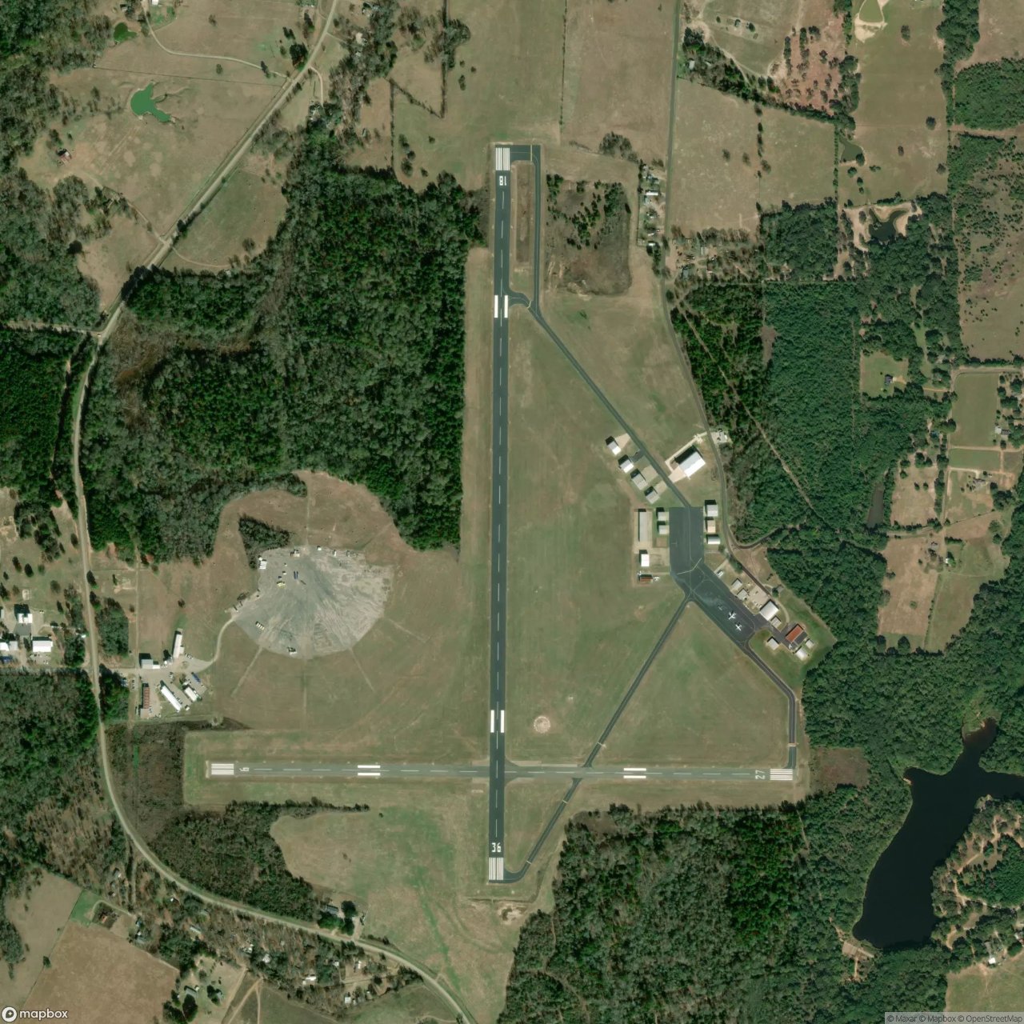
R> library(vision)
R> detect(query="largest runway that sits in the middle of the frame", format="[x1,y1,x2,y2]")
[489,145,510,882]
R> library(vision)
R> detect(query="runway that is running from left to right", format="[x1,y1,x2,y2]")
[210,764,794,780]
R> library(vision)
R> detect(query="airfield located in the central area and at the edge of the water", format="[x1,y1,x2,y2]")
[210,145,809,883]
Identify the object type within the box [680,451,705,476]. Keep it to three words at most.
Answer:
hangar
